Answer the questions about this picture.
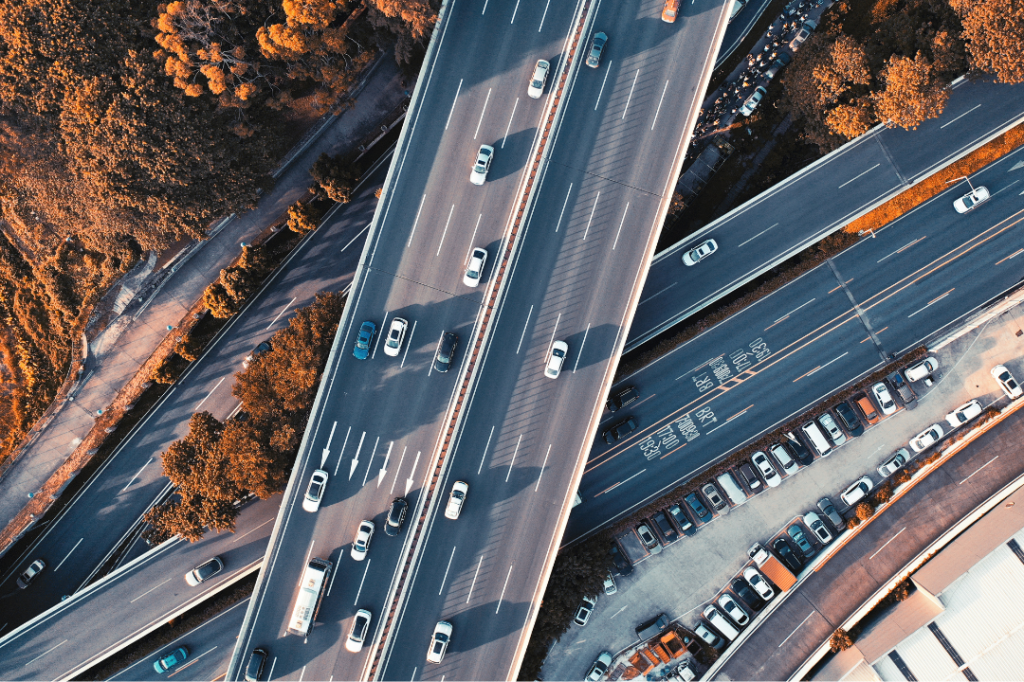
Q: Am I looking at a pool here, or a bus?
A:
bus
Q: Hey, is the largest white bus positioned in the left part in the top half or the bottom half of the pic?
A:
bottom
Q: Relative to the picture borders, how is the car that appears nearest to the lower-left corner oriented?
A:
diagonally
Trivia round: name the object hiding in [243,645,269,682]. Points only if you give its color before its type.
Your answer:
black car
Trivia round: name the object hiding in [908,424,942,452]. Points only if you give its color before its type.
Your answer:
white car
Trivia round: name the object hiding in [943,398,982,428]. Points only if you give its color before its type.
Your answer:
white car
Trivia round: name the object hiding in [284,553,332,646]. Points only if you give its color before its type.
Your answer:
white bus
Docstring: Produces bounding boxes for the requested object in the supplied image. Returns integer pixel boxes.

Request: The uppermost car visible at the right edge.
[950,184,990,213]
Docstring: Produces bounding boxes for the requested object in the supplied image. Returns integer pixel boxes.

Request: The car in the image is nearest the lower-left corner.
[16,555,48,590]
